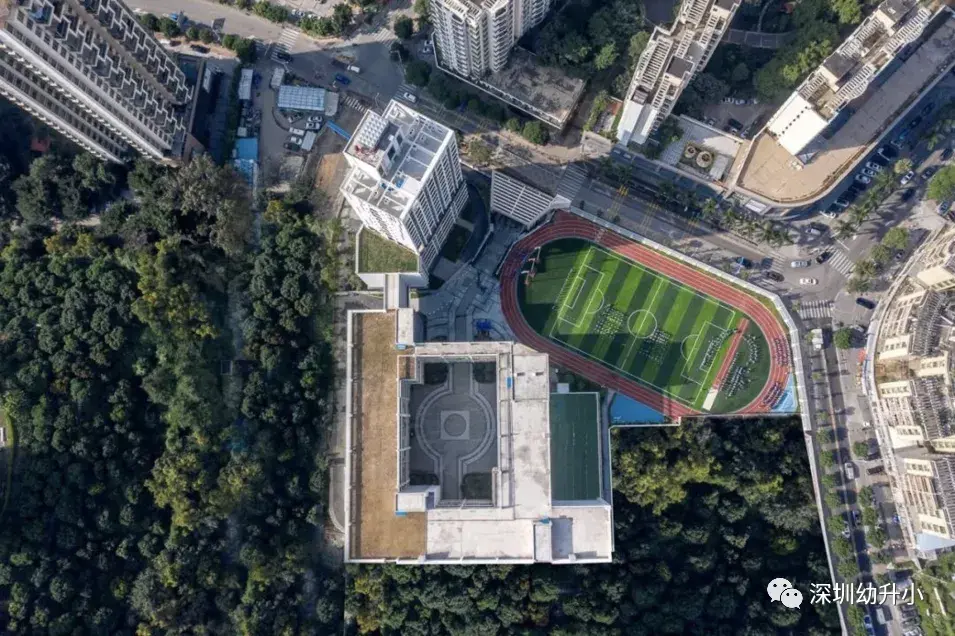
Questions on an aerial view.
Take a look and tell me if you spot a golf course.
No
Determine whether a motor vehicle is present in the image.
Yes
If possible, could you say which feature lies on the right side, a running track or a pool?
running track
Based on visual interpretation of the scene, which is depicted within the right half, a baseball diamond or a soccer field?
soccer field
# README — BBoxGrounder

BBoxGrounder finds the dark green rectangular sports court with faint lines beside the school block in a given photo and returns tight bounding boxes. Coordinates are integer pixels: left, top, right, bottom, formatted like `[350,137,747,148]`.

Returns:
[549,390,604,498]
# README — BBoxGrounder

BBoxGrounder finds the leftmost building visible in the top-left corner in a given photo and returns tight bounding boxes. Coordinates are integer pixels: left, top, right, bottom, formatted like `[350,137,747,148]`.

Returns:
[0,0,201,177]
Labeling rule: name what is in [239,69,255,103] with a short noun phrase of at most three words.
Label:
building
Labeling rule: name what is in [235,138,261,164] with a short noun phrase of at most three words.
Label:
shed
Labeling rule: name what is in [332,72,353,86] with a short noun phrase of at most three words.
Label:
vehicle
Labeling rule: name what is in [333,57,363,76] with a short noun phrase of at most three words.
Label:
vehicle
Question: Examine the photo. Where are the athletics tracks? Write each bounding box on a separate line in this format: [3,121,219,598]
[500,213,788,431]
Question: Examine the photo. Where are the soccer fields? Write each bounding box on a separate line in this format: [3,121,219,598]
[516,236,769,412]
